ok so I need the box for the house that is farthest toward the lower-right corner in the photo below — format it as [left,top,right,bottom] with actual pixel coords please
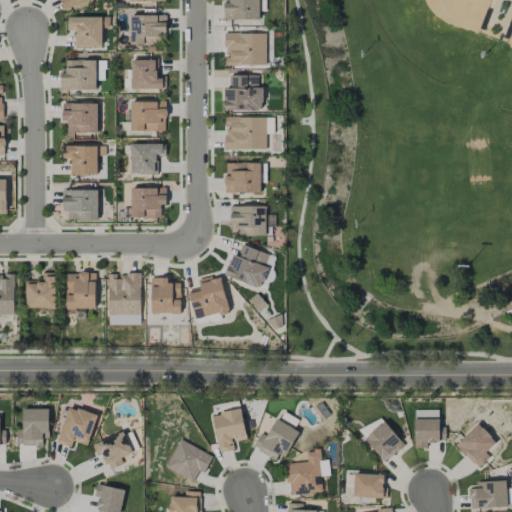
[472,482,512,510]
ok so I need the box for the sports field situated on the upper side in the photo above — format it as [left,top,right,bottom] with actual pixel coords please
[343,0,512,314]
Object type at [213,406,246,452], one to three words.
house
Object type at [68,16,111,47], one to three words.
house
